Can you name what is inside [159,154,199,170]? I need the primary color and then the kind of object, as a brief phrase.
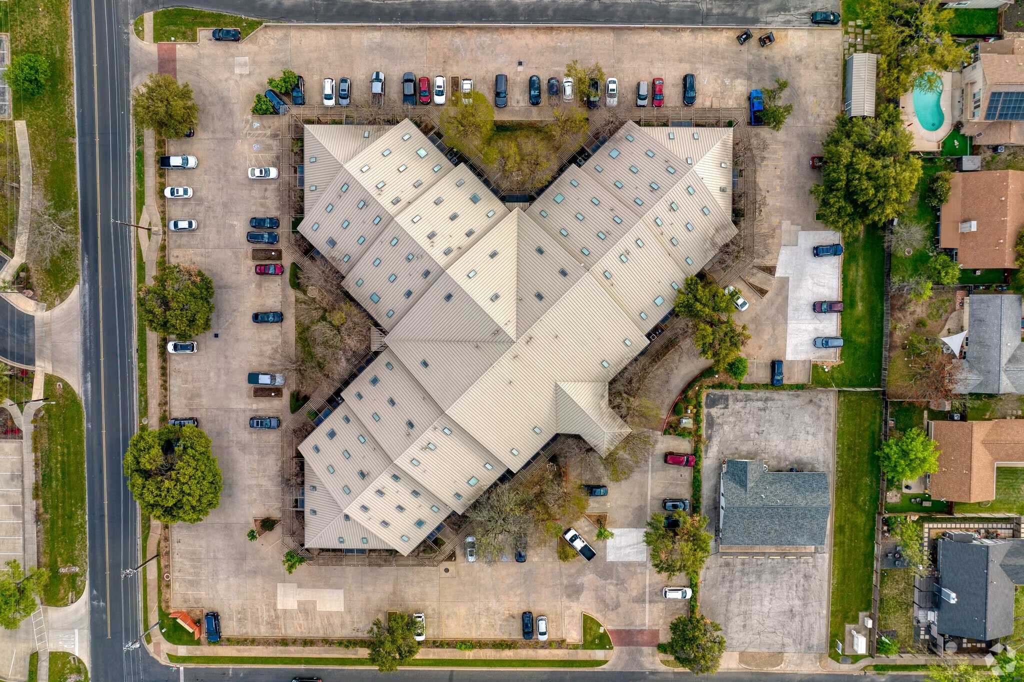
white vehicle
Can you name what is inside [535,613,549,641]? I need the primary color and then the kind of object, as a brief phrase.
white car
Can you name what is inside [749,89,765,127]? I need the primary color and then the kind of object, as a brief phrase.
blue vehicle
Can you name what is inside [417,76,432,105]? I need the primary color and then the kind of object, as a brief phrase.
red car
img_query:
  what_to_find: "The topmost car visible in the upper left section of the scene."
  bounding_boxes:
[213,27,243,43]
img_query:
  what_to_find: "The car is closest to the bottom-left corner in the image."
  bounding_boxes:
[204,610,221,642]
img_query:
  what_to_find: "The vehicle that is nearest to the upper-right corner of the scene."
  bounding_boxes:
[809,10,839,26]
